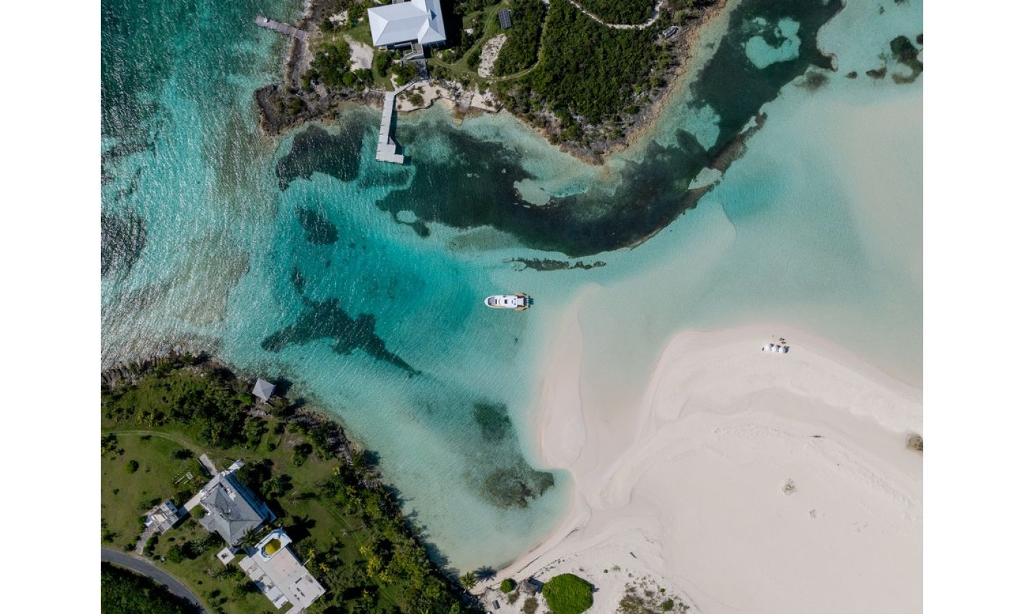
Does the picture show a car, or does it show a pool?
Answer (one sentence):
The one in the frame is a pool.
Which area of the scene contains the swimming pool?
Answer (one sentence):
Look in the bottom left portion of the view to spot the swimming pool.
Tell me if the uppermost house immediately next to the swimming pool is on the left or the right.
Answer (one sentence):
It is on the left.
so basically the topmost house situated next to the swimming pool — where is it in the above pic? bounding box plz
[199,466,277,545]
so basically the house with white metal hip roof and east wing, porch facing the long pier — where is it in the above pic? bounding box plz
[368,0,447,62]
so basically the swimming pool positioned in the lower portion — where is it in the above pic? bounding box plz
[255,527,294,562]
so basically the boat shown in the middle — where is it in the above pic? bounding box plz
[484,292,530,311]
